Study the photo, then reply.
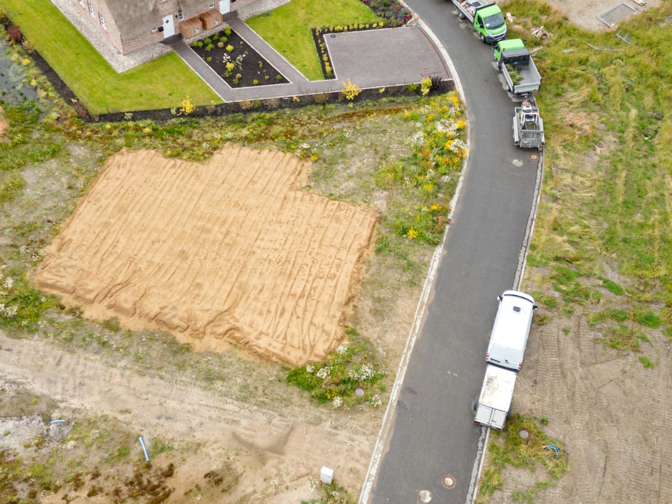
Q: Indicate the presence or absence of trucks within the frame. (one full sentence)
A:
Yes, the picture does show a truck.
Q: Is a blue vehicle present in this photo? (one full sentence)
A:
No, this view has no blue vehicle in it.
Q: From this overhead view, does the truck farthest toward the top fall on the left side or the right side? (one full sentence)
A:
It is on the right.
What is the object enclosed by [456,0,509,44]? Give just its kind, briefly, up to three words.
truck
